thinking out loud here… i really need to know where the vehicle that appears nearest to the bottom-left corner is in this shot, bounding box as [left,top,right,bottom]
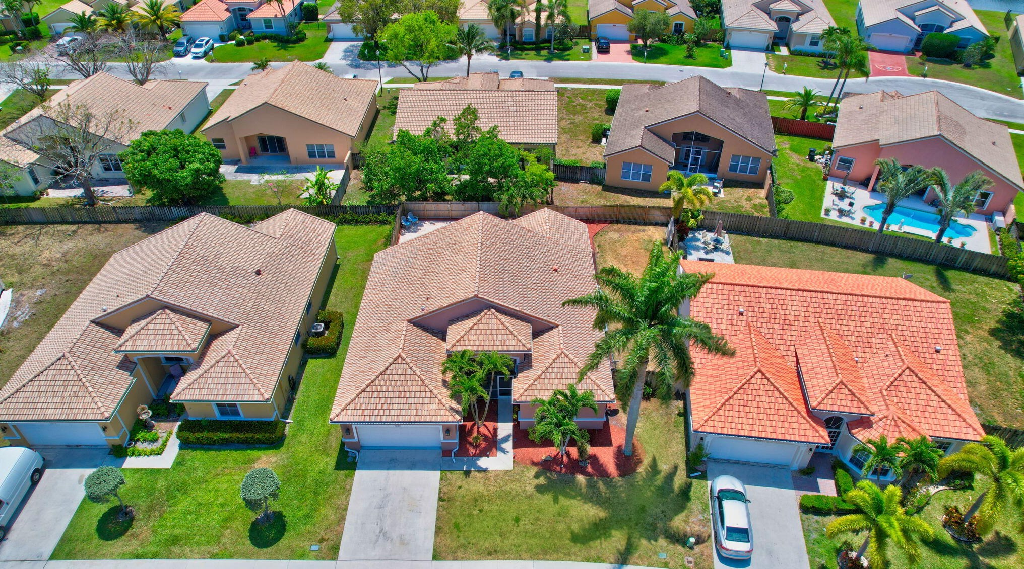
[0,448,41,538]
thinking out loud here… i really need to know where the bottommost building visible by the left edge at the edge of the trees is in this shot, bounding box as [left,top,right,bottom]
[0,206,339,446]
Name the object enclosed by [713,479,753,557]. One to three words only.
car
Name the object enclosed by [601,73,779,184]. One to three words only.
house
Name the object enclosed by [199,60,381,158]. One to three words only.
house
